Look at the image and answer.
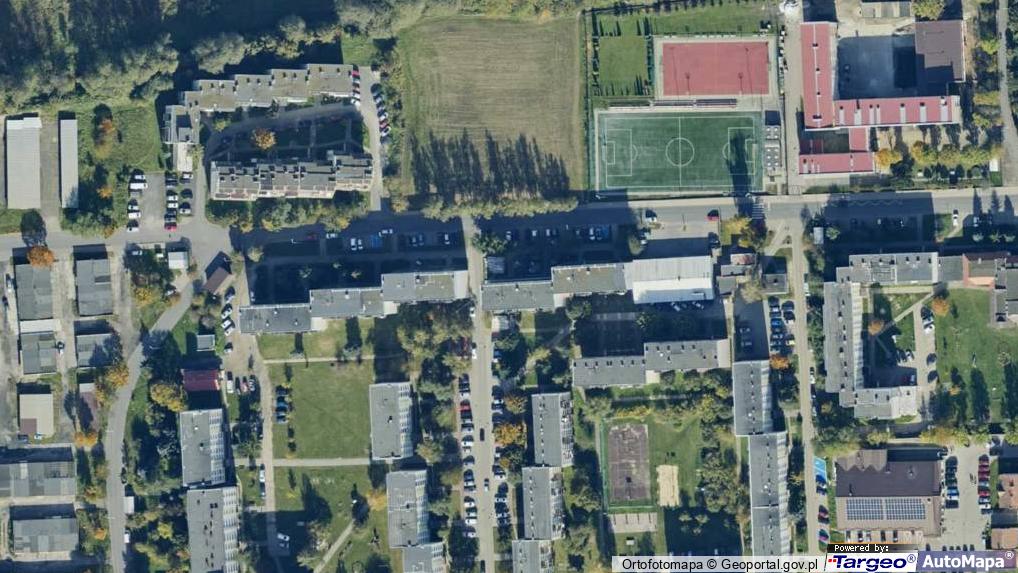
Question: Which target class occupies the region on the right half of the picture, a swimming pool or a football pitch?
football pitch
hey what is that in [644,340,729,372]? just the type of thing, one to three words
building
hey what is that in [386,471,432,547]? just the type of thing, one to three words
building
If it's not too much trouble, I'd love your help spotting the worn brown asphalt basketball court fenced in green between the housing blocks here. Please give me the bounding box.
[604,419,656,507]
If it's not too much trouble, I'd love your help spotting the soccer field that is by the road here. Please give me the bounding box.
[594,103,764,197]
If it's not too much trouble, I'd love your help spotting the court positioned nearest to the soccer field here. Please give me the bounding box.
[653,35,778,98]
